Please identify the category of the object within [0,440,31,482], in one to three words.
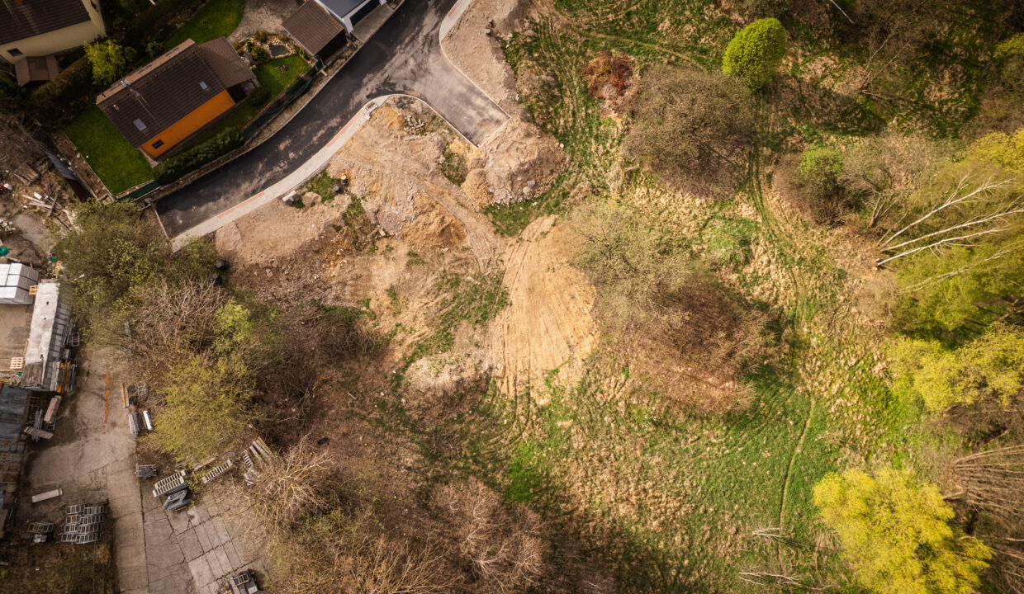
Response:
shed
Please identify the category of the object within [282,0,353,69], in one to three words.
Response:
building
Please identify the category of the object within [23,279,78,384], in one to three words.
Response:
shed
